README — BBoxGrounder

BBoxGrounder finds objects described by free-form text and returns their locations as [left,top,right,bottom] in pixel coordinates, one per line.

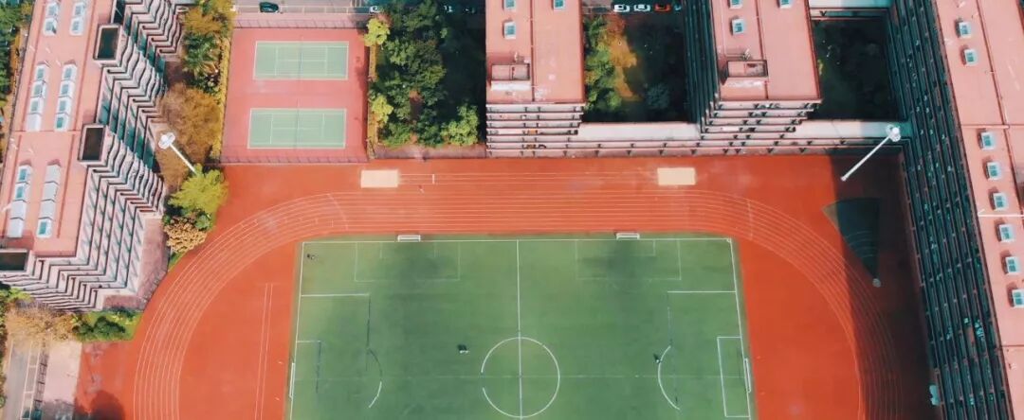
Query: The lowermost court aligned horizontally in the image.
[246,104,347,151]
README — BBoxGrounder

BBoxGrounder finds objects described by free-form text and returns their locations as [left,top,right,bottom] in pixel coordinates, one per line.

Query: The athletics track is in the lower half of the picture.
[132,173,901,420]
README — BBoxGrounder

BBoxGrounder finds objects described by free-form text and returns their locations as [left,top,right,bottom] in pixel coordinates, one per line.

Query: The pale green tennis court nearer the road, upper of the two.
[251,41,349,79]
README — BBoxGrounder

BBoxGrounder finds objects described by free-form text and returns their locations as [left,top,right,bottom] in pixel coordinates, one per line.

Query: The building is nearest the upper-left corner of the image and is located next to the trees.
[0,0,188,315]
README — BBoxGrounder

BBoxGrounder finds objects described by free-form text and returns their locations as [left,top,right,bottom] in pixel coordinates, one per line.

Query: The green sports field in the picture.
[282,233,758,420]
